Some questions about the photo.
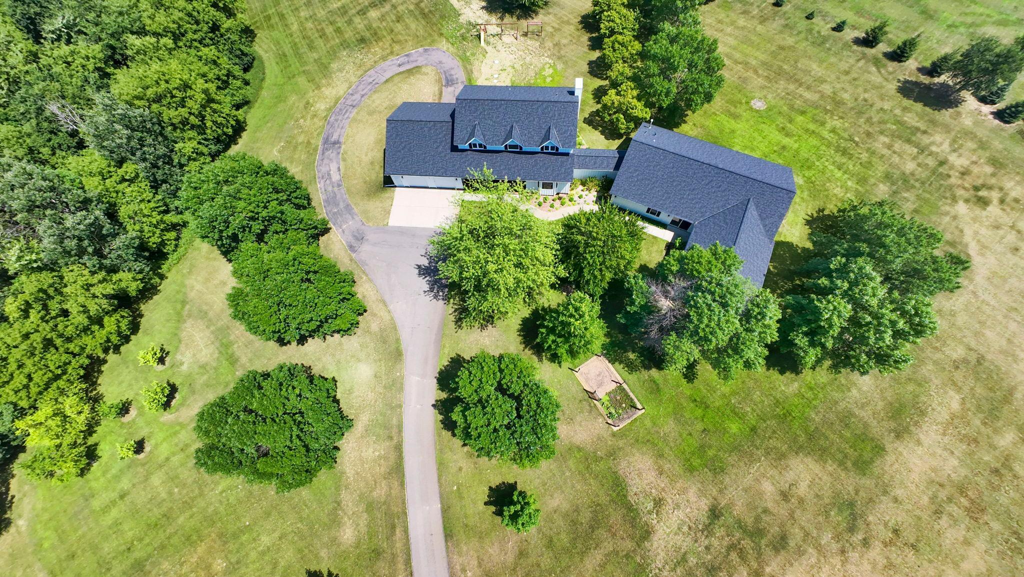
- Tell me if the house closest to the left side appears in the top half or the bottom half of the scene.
top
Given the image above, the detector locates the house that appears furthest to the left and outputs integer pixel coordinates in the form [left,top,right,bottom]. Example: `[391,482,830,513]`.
[382,78,583,196]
